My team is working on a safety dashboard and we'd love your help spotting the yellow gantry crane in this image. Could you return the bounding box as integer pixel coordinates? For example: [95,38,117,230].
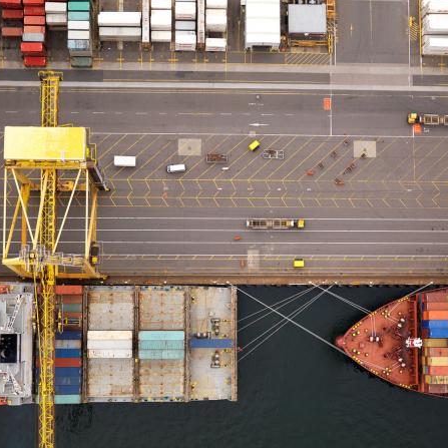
[0,70,118,448]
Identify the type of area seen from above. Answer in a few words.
port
